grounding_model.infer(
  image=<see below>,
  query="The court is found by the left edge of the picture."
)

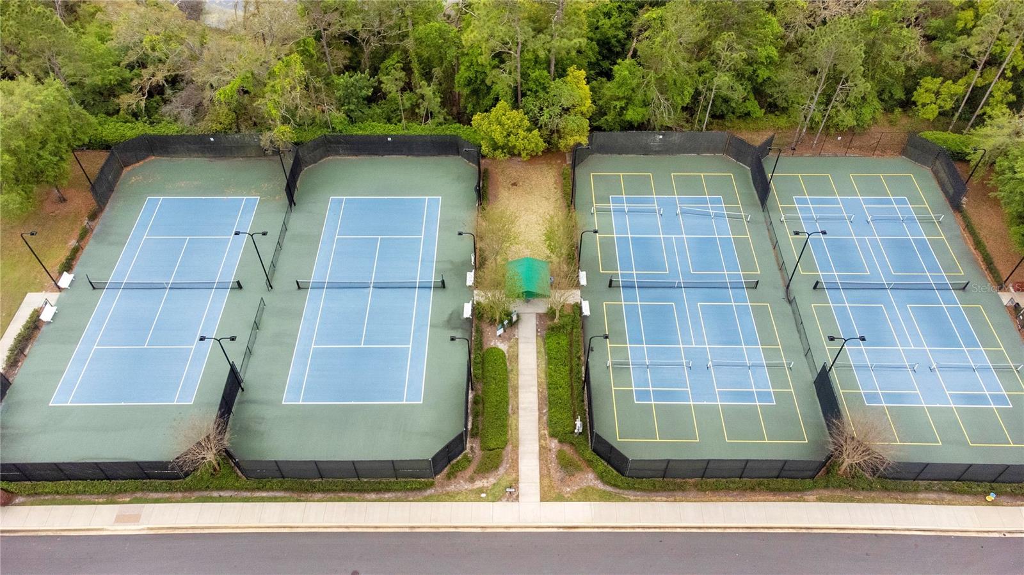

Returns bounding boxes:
[0,157,293,476]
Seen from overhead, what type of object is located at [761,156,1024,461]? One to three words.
tennis court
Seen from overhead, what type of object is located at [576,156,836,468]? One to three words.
tennis court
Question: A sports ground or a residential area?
sports ground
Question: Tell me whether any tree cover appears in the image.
Yes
